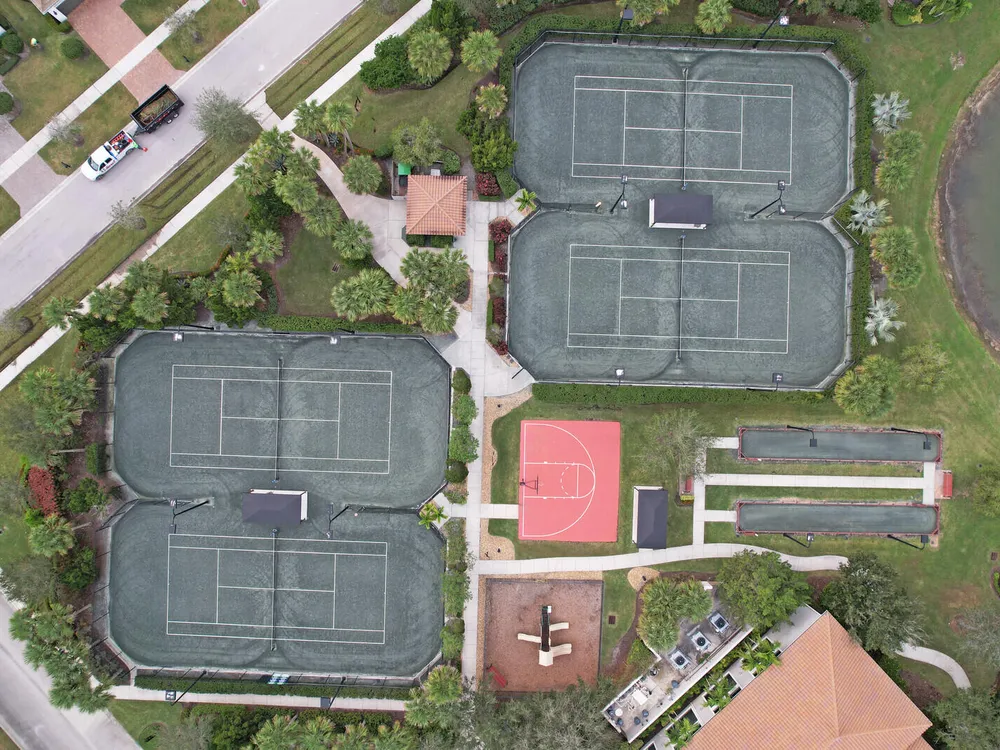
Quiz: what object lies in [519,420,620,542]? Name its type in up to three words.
basketball court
